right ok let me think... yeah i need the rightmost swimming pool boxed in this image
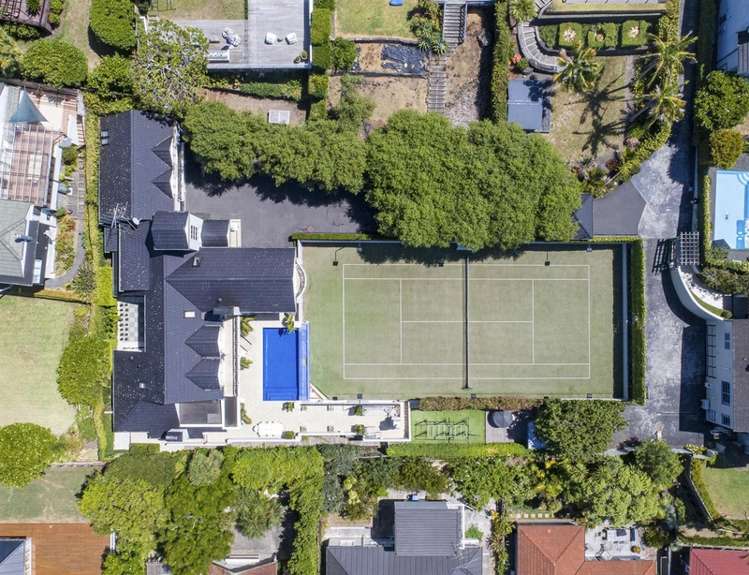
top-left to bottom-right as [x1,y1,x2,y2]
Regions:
[710,162,749,252]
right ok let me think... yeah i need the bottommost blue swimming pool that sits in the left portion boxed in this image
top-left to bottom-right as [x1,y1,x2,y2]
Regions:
[263,325,312,401]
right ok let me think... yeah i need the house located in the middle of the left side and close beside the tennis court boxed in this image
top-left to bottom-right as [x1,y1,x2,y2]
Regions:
[98,110,311,452]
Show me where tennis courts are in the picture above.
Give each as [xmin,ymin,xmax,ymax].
[304,243,622,402]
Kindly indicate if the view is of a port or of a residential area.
residential area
